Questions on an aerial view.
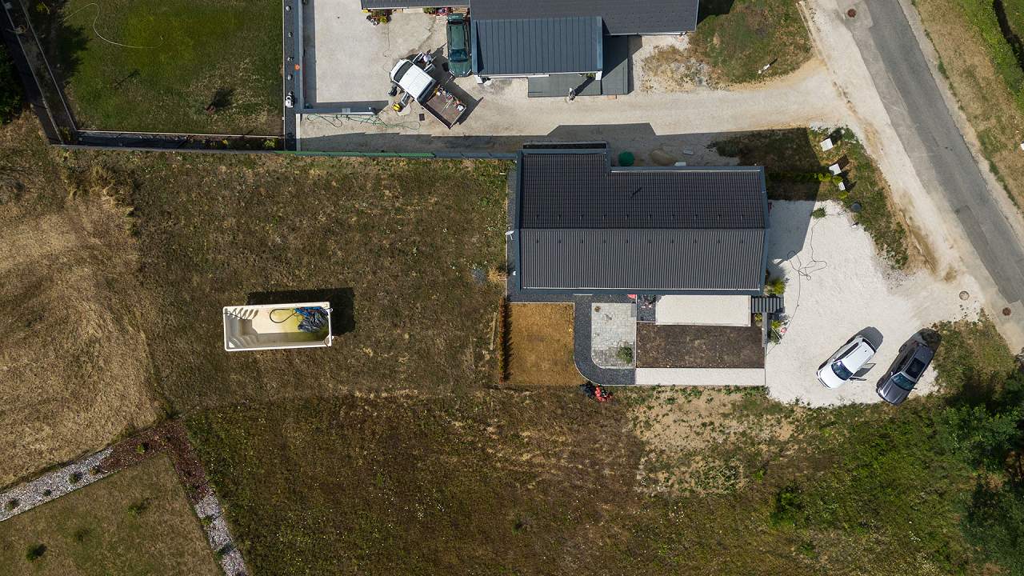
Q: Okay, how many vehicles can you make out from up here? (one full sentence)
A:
There are 4 vehicles in the image.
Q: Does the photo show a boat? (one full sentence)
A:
No, the frame has no boat in it.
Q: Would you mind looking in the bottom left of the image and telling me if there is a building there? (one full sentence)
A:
No, no building appears in the bottom left of the image.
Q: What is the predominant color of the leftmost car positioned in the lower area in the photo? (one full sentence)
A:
The leftmost car positioned in the lower area is white.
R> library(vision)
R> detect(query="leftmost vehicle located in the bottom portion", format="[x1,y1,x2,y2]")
[814,334,873,386]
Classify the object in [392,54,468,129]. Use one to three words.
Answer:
truck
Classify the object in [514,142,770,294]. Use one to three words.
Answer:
house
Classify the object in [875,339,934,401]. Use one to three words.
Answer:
car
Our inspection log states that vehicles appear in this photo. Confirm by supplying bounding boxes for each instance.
[875,339,934,401]
[814,334,873,386]
[392,54,468,129]
[444,14,472,83]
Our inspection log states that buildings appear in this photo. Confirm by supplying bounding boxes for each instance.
[467,0,703,85]
[514,142,770,294]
